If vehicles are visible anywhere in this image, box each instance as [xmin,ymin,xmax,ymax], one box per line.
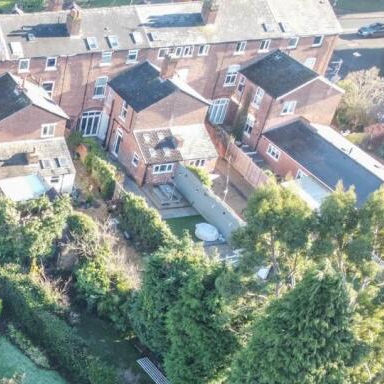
[358,21,384,39]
